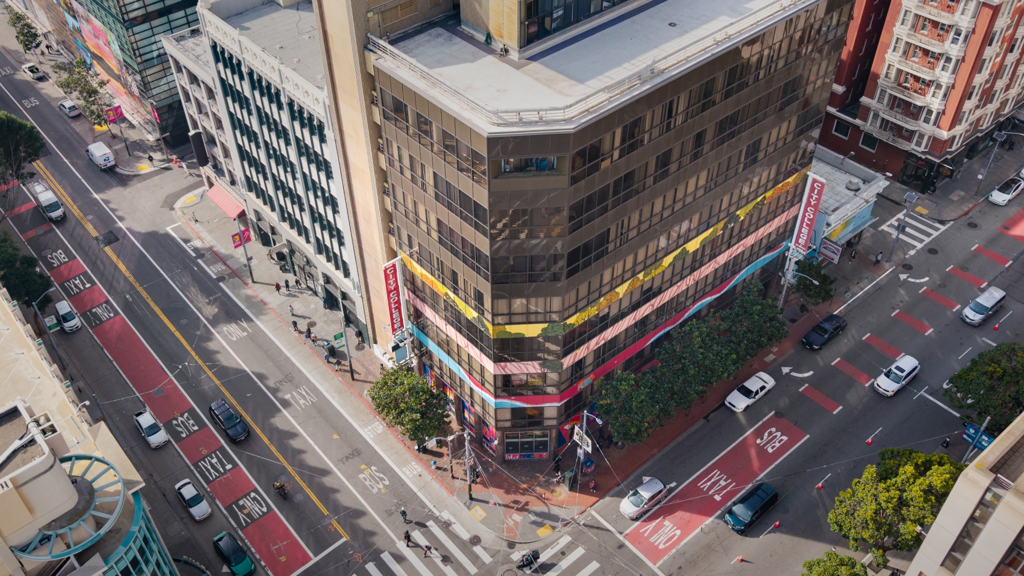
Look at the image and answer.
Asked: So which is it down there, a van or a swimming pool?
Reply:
van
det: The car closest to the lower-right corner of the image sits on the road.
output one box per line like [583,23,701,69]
[875,356,923,397]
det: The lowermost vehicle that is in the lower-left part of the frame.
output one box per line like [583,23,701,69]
[211,528,261,576]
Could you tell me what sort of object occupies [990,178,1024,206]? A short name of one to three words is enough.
car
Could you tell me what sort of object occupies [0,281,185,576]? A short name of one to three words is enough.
building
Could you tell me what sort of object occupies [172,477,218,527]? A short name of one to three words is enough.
car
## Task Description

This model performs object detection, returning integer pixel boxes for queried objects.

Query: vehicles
[59,99,85,120]
[211,528,261,576]
[804,314,853,354]
[619,475,669,520]
[52,301,85,334]
[26,172,68,220]
[130,407,174,453]
[172,477,218,527]
[727,371,780,415]
[523,544,540,576]
[81,137,119,173]
[963,286,1007,325]
[990,178,1024,206]
[726,483,784,536]
[276,482,290,500]
[208,400,253,445]
[875,356,923,397]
